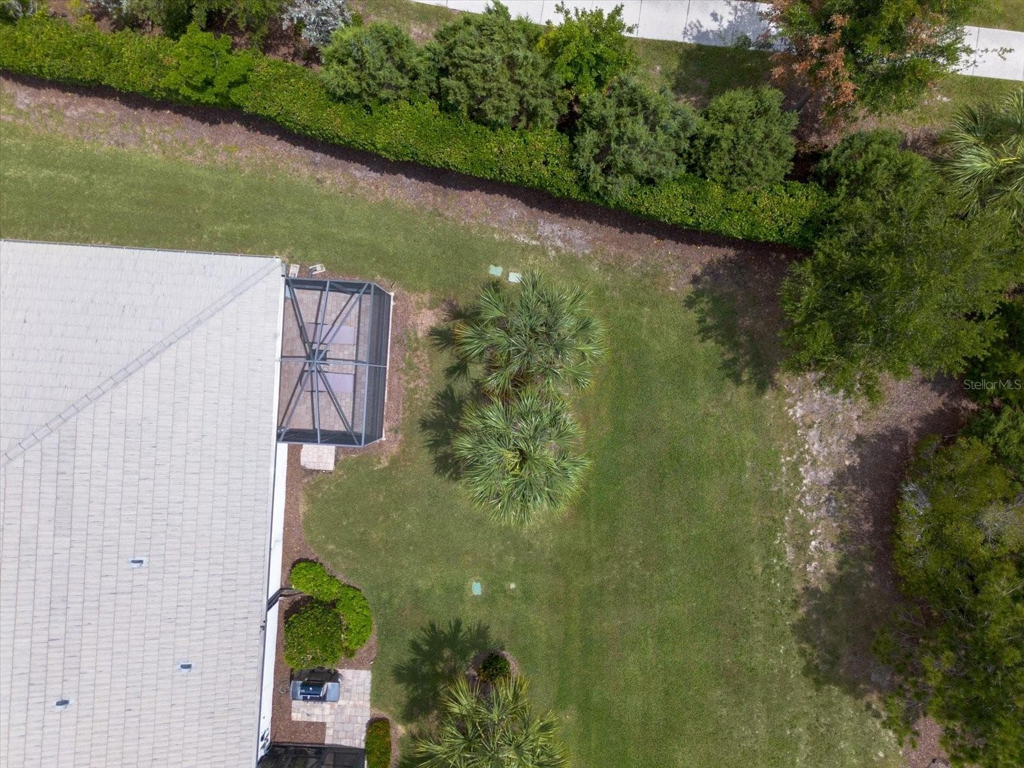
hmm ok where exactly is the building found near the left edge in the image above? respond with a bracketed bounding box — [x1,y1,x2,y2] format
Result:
[0,239,300,768]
